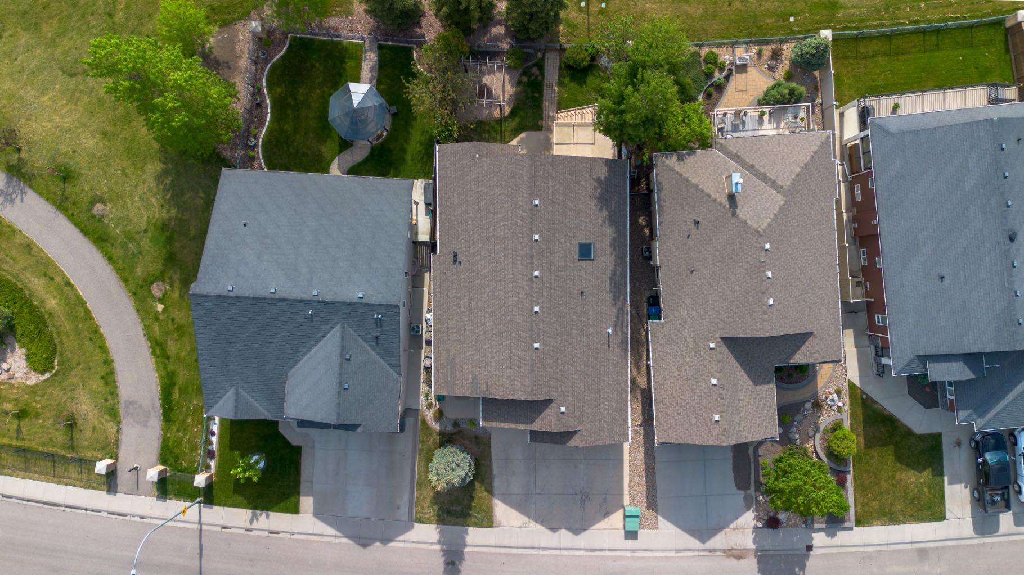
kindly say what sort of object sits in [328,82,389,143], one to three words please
gazebo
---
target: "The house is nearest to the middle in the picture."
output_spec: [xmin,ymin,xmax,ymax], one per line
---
[431,141,631,447]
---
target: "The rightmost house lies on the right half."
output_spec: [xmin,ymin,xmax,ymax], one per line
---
[850,104,1024,432]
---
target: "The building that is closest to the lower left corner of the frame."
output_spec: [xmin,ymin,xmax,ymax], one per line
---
[190,168,421,432]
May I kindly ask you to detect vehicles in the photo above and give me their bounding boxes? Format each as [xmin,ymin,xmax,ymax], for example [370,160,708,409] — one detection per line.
[967,430,1012,513]
[1009,430,1024,496]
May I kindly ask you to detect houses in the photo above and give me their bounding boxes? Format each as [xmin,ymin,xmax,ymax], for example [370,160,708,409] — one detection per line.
[644,130,843,446]
[850,104,1024,432]
[190,168,421,432]
[431,141,631,447]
